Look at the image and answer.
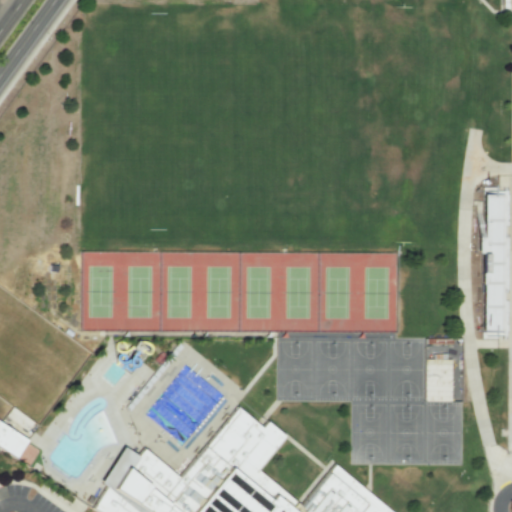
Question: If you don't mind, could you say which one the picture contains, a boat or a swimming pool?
swimming pool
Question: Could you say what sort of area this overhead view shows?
sports ground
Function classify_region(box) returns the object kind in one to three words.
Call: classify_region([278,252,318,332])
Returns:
tennis court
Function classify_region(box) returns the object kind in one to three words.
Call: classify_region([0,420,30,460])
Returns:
building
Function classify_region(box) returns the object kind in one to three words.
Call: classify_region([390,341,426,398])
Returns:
basketball court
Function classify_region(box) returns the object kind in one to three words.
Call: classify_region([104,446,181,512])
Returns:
building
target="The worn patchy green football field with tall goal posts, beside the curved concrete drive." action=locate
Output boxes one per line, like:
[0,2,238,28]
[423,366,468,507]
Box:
[332,6,455,248]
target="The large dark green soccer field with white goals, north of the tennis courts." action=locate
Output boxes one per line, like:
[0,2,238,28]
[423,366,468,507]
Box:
[84,6,330,248]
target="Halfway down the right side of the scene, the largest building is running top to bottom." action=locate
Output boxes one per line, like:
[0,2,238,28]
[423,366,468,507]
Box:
[483,188,511,340]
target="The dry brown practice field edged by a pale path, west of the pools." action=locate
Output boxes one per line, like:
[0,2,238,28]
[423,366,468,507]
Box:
[0,288,91,424]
